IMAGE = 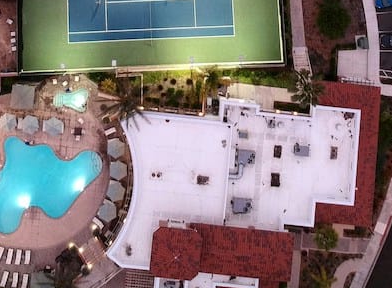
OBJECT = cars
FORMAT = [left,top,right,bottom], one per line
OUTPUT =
[374,0,392,9]
[379,33,392,48]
